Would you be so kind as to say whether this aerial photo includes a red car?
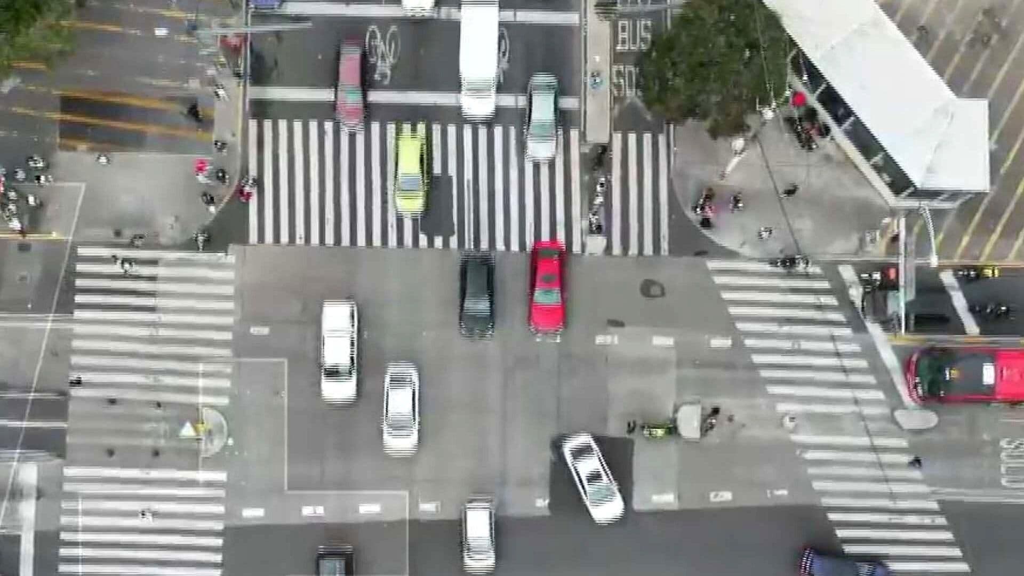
Yes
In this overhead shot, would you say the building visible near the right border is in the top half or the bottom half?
top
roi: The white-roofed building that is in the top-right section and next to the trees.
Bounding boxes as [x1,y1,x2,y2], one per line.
[747,0,990,212]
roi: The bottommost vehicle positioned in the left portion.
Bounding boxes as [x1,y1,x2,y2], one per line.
[318,544,354,576]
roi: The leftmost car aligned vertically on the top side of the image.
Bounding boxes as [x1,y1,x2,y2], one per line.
[332,40,369,132]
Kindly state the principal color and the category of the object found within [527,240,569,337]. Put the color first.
red car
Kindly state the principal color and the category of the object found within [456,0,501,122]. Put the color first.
white van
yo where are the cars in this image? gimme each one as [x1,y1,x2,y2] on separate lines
[404,0,435,19]
[379,362,422,457]
[527,240,569,337]
[318,544,354,576]
[317,299,360,404]
[457,251,497,339]
[390,122,430,218]
[458,495,499,574]
[523,73,562,164]
[798,551,894,576]
[332,40,369,132]
[562,431,623,525]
